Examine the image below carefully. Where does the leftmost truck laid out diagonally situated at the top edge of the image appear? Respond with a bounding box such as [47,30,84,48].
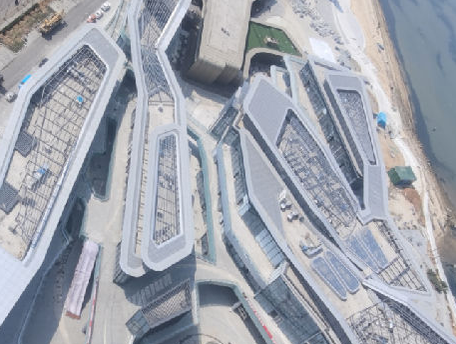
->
[39,7,68,31]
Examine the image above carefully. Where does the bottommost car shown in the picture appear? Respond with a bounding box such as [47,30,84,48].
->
[2,89,20,101]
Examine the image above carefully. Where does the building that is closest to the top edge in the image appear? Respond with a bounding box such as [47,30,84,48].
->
[183,0,252,90]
